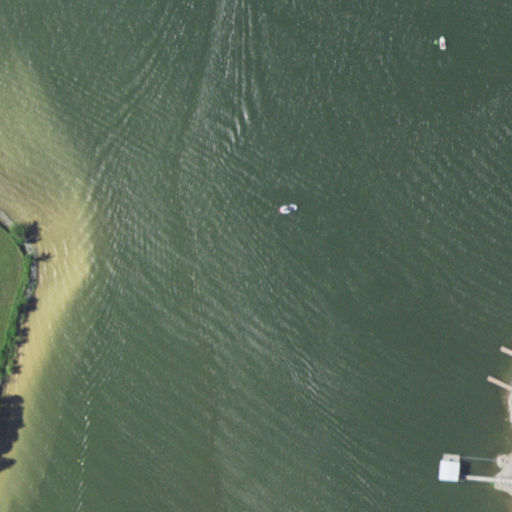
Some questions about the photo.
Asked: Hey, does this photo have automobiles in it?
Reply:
No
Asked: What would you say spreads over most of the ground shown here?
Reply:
water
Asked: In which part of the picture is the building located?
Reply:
bottom right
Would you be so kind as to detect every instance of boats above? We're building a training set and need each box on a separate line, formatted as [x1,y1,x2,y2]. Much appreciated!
[440,36,446,51]
[280,204,298,213]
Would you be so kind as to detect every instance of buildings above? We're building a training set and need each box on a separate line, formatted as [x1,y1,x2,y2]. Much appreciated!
[439,454,463,484]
